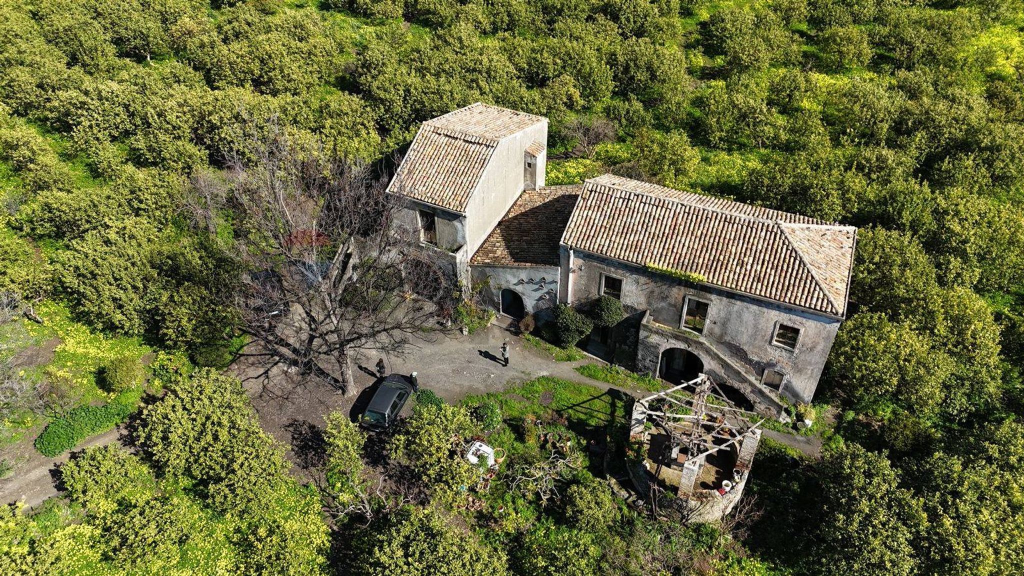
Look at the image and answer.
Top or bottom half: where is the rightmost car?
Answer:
bottom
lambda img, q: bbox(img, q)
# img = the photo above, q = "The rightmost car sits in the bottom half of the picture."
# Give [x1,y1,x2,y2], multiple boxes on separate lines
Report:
[356,373,415,437]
